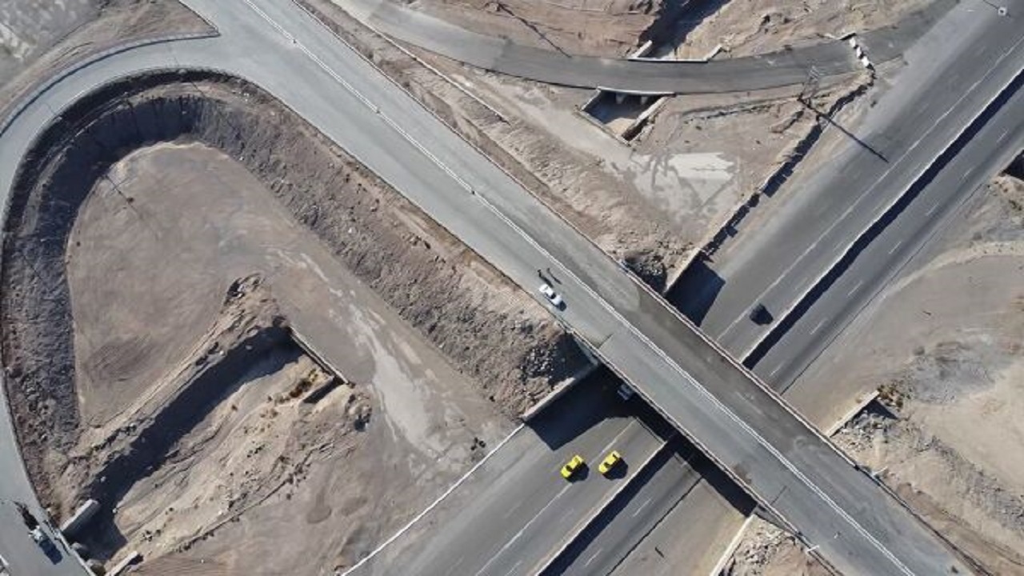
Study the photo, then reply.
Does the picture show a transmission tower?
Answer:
Yes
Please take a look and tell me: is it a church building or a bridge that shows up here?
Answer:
bridge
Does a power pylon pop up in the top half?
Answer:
Yes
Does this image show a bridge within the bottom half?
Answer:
Yes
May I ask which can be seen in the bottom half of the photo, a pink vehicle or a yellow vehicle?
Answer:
yellow vehicle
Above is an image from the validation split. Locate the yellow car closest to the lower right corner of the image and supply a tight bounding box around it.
[599,452,621,475]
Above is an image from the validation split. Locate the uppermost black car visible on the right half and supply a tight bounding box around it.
[749,304,768,322]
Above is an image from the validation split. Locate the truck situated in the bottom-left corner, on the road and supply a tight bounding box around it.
[28,515,50,547]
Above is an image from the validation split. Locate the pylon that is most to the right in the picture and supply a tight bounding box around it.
[799,67,827,107]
